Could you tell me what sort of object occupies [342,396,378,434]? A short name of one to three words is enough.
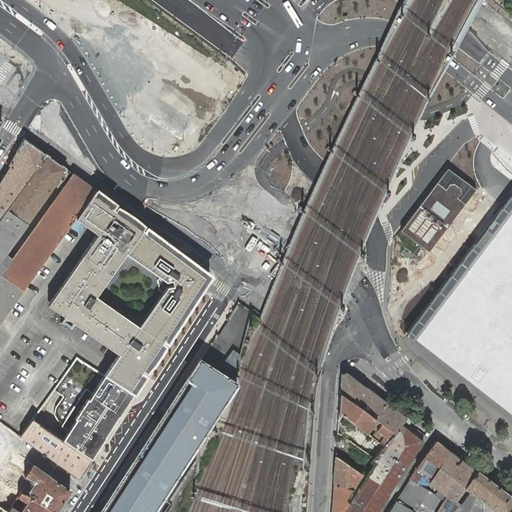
house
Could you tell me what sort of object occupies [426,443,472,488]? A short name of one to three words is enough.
house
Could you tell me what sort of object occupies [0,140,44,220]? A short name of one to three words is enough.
building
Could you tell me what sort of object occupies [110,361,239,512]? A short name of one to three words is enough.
shed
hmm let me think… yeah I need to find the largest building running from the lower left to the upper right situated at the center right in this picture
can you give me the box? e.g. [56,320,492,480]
[402,168,476,252]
